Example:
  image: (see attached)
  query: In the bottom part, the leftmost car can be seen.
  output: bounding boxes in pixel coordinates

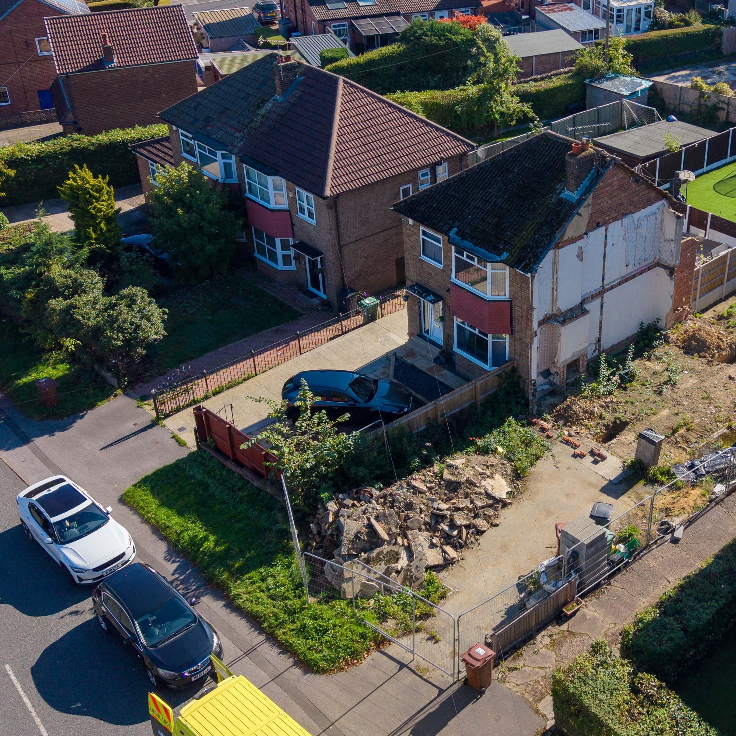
[15,480,133,587]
